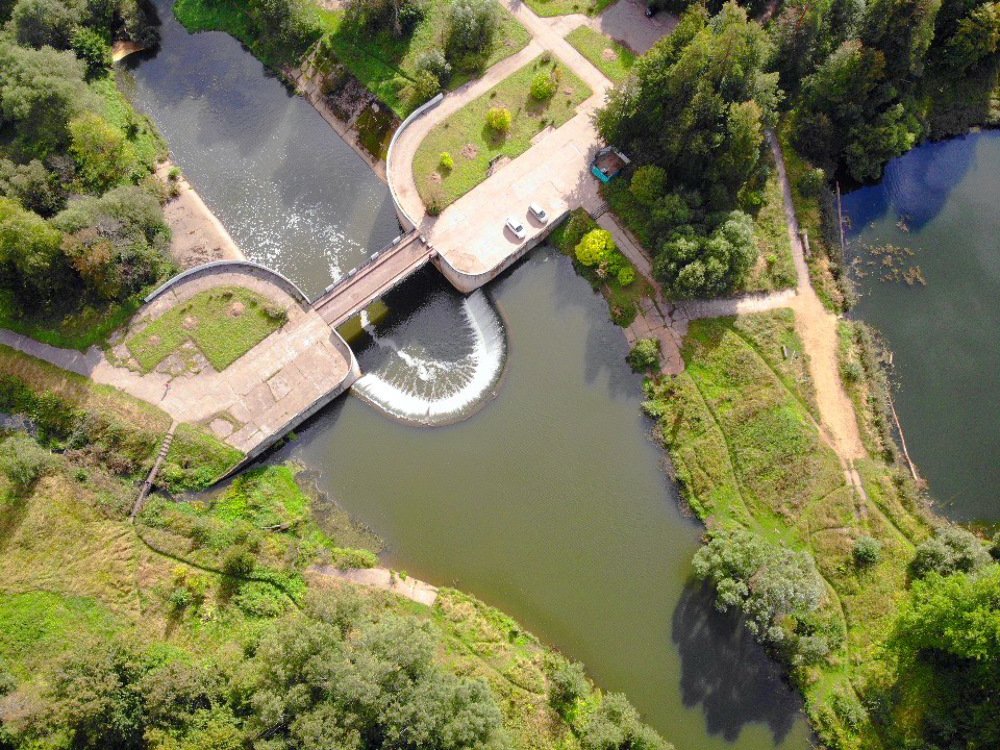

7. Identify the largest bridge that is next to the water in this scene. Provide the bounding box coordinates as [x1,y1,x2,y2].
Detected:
[312,229,438,331]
